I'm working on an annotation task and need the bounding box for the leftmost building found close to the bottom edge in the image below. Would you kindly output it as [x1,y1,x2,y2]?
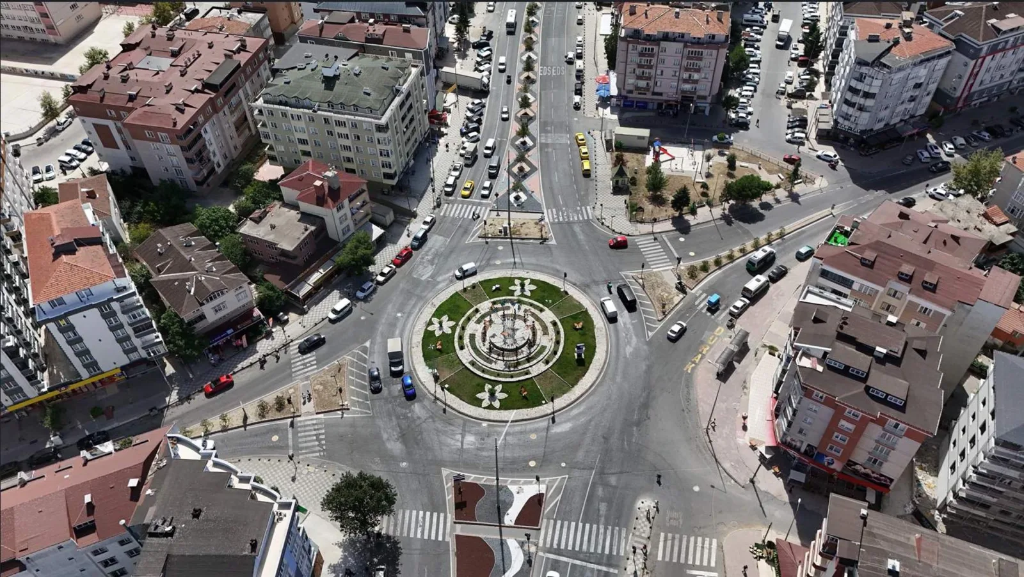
[0,425,174,577]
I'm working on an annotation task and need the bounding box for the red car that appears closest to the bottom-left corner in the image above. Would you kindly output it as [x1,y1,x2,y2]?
[203,375,235,396]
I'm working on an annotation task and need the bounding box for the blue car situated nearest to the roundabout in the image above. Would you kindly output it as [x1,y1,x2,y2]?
[401,374,416,400]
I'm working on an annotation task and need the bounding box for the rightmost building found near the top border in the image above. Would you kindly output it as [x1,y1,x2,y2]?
[923,0,1024,112]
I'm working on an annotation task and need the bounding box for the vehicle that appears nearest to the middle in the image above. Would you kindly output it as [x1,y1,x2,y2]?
[454,260,479,280]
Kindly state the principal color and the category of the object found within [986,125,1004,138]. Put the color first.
black vehicle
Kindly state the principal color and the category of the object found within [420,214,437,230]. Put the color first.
white car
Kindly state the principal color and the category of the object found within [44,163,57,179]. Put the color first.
white vehicle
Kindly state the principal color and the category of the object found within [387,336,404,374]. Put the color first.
white vehicle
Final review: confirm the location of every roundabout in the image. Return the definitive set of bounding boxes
[412,270,606,419]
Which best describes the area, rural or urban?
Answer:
urban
